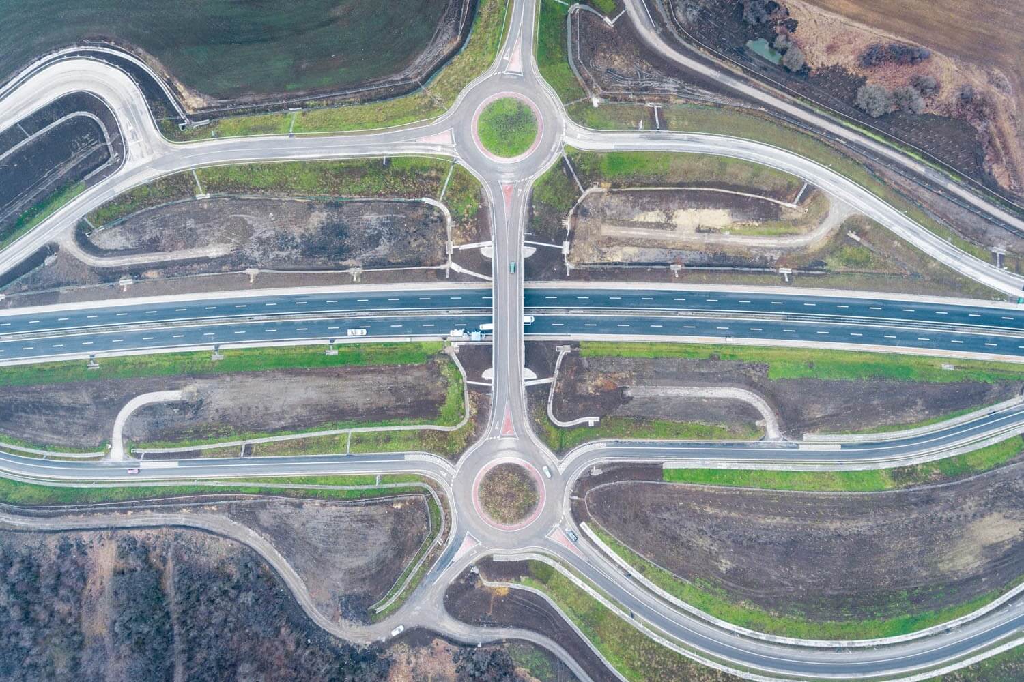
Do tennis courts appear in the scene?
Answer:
No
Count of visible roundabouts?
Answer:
2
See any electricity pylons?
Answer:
No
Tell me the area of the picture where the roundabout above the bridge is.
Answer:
top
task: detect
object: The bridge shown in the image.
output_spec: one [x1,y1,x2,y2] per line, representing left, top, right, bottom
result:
[493,226,524,398]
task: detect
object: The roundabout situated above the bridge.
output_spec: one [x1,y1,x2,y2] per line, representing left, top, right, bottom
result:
[409,27,588,225]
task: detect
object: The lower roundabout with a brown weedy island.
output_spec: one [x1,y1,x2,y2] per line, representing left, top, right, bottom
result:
[435,399,587,571]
